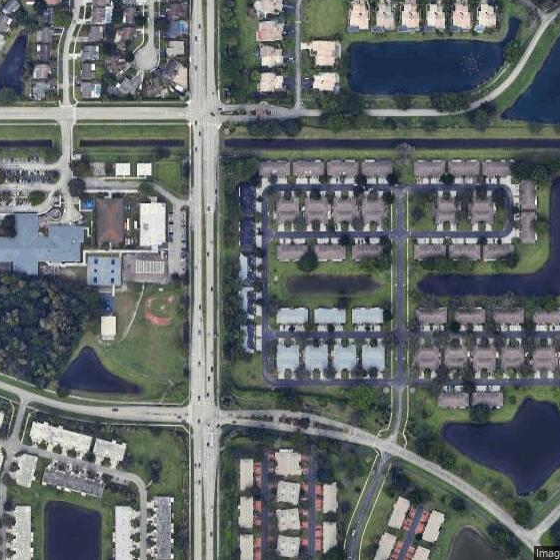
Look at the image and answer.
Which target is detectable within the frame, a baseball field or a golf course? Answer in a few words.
baseball field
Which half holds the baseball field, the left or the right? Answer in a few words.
left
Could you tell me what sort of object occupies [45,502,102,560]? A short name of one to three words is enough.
pond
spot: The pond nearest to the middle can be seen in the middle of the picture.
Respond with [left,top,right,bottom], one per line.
[287,275,379,295]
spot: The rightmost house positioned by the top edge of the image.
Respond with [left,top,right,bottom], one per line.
[475,5,496,32]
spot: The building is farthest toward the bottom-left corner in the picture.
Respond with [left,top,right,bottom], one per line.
[14,506,32,560]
